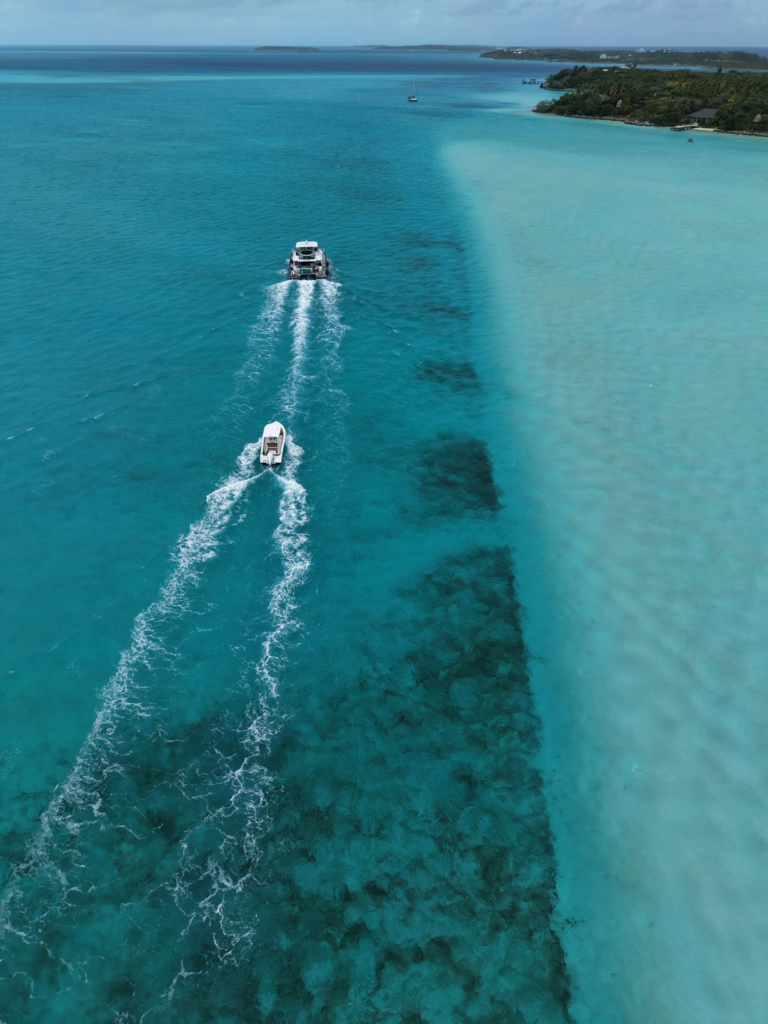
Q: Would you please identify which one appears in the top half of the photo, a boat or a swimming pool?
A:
boat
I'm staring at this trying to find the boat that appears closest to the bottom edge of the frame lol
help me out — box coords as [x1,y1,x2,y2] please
[261,423,287,470]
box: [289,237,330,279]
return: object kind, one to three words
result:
boat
